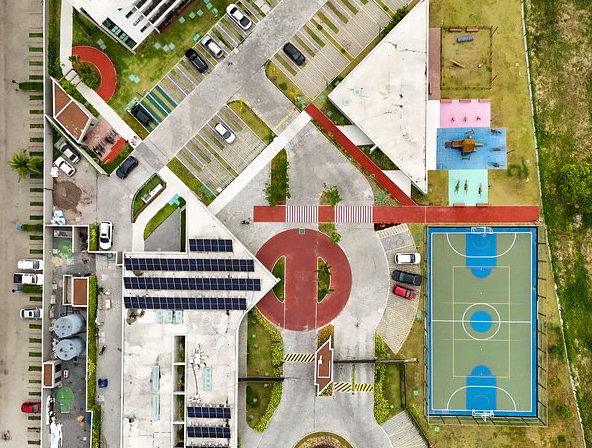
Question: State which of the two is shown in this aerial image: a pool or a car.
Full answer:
Visible in the photo is a car.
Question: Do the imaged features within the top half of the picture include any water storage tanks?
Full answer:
No, within the top half of the picture there is no water storage tank.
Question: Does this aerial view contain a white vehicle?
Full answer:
Yes, this view includes a white vehicle.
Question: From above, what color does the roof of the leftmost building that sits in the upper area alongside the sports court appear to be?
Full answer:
The roof over the leftmost building that sits in the upper area alongside the sports court appears white.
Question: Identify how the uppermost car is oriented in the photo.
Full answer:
The uppermost car has been laid out on a diagonal relative to the frame.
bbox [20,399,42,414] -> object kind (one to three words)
car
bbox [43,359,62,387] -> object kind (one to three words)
building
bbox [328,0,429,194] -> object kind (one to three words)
building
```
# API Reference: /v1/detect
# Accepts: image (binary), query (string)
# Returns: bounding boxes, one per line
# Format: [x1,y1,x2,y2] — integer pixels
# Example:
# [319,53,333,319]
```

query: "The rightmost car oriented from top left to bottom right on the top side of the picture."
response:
[281,40,308,67]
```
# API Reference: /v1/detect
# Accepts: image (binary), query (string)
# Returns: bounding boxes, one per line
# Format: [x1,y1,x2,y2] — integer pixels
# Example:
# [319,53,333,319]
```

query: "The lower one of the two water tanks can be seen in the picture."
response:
[59,331,88,359]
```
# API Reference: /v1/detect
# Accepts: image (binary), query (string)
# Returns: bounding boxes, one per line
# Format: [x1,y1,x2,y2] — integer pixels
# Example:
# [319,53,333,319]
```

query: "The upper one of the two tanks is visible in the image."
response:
[53,310,86,337]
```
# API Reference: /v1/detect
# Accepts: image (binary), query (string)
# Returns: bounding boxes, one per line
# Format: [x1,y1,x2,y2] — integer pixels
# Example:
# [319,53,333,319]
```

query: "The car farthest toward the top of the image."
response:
[226,3,253,32]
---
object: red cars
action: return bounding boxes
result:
[391,284,418,300]
[20,399,42,414]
